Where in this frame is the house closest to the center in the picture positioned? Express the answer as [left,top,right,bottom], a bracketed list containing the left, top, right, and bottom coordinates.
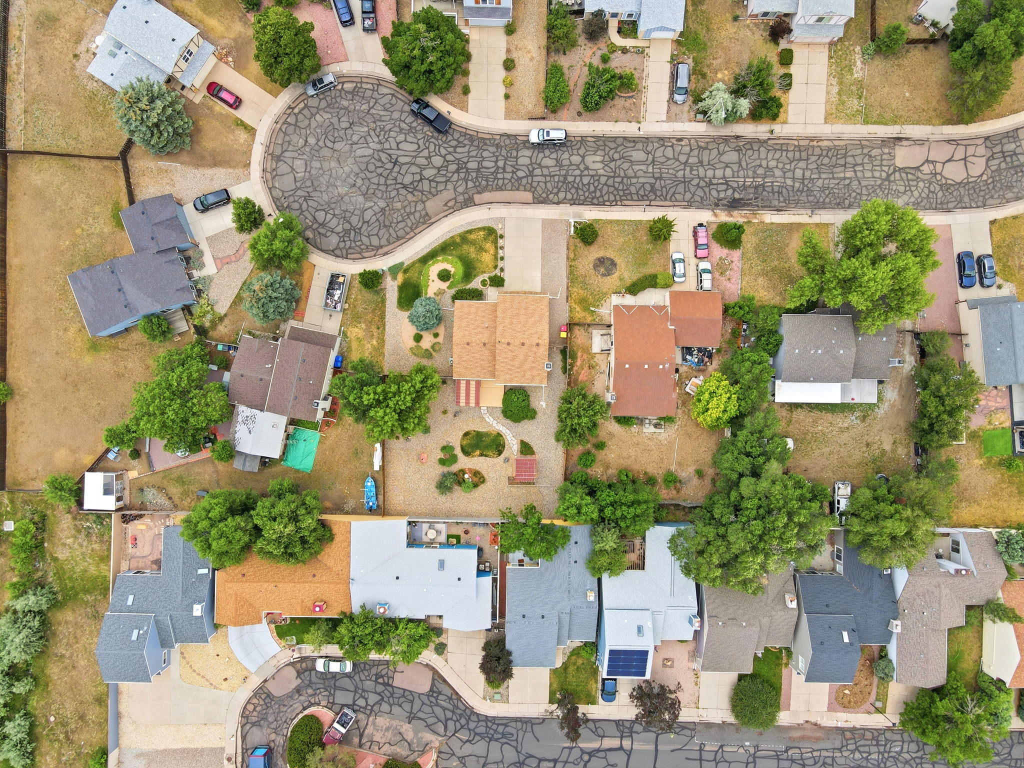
[444,292,558,407]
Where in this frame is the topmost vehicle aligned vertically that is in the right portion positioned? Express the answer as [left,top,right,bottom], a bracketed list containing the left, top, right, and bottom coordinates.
[671,62,691,105]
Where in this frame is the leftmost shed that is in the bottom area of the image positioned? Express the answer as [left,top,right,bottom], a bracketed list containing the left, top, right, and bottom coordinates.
[83,471,127,510]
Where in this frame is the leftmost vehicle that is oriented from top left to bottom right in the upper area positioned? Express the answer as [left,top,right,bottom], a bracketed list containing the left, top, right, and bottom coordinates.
[206,80,245,114]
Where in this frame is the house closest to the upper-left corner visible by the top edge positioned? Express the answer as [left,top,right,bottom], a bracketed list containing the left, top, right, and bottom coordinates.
[86,0,219,93]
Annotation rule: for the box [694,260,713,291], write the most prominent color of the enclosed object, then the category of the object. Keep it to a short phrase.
white car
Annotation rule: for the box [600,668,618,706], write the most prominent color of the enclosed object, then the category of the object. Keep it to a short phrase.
blue car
